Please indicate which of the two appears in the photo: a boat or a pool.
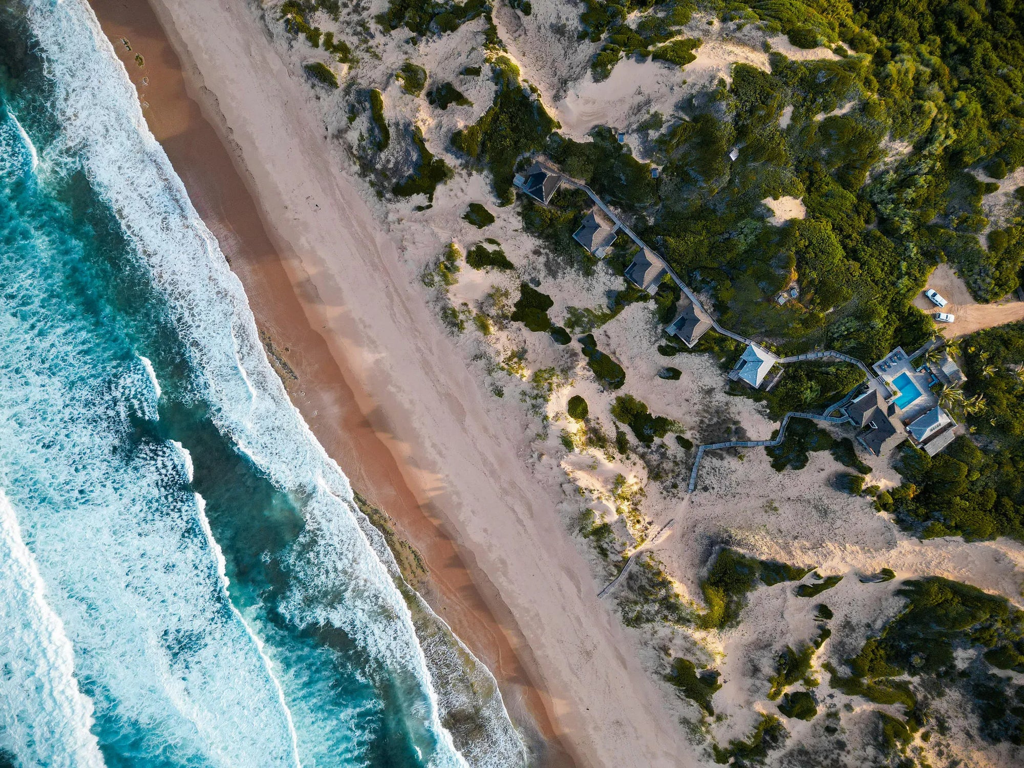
pool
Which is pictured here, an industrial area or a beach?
beach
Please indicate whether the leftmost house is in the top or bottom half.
top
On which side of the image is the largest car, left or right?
right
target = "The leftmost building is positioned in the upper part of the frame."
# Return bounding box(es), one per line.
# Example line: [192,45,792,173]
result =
[513,158,564,206]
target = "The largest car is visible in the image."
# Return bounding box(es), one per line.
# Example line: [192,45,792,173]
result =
[924,288,951,308]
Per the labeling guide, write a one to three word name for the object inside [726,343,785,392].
house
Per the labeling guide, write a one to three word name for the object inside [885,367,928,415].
swimming pool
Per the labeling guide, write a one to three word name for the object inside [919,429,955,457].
shed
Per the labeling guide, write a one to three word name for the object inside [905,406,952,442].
building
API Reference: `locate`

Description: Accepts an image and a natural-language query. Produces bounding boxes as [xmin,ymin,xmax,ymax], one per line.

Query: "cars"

[934,313,953,323]
[924,288,951,308]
